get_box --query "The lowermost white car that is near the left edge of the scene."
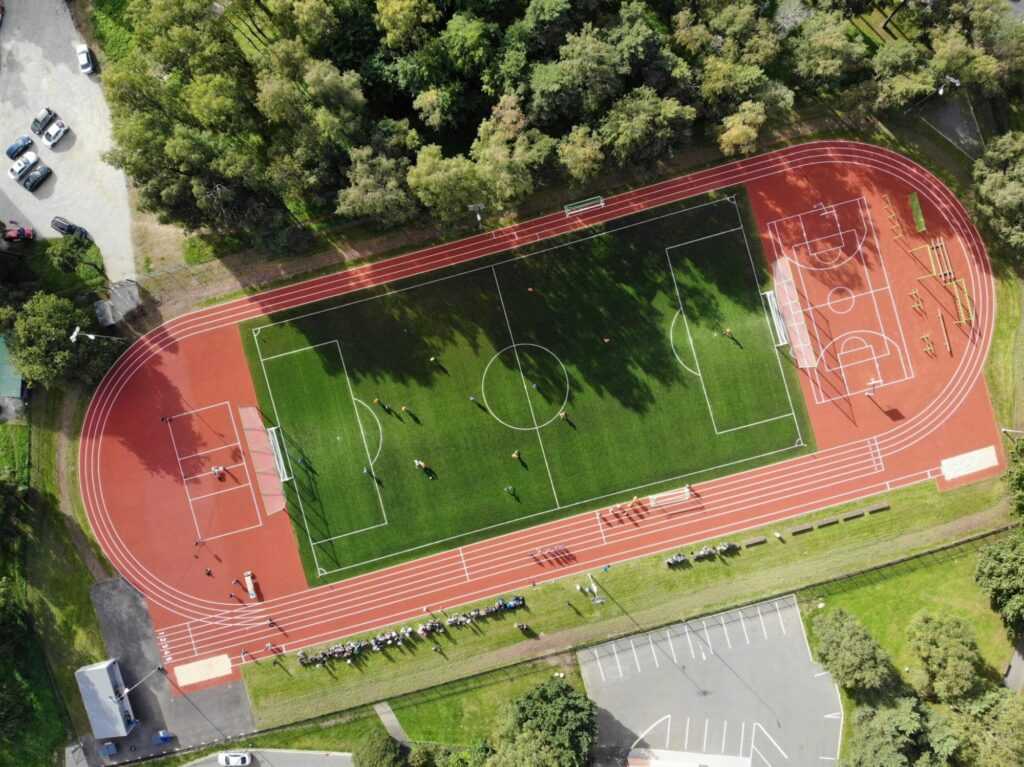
[8,153,40,179]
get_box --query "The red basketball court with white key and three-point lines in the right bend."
[767,196,914,404]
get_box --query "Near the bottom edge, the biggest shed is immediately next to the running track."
[73,658,134,739]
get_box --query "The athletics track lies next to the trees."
[78,142,1005,697]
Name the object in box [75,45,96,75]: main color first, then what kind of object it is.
white car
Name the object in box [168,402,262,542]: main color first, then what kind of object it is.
red sports court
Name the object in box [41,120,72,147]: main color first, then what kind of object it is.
white car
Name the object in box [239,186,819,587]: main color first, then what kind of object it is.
green soccer field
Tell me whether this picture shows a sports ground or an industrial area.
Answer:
sports ground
